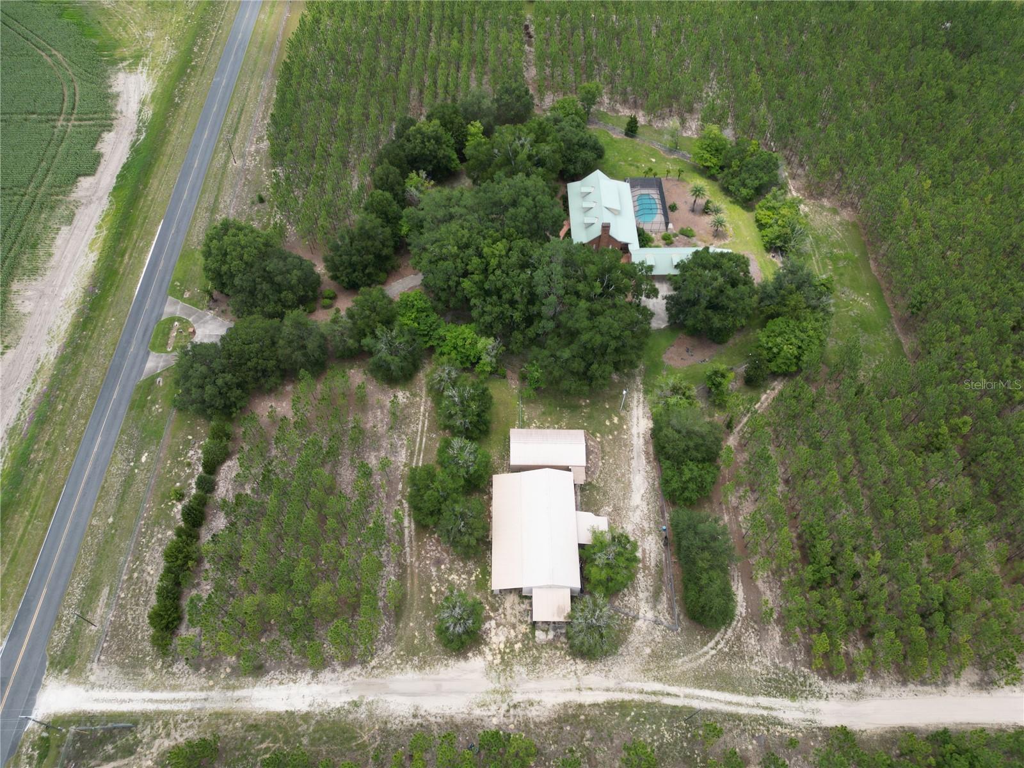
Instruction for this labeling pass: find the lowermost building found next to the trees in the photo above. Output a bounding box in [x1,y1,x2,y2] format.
[492,469,608,626]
